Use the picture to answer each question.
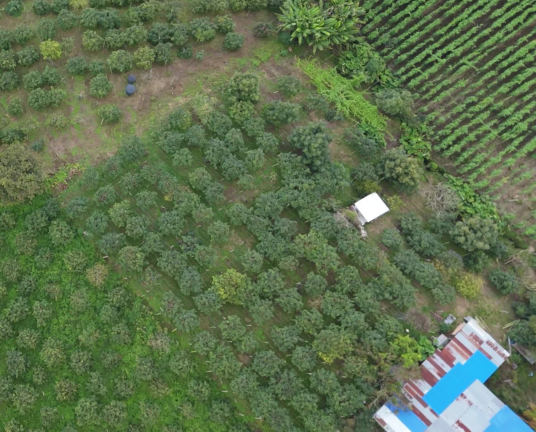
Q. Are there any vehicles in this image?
No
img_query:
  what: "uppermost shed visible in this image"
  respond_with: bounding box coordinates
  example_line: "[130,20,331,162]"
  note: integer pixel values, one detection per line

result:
[349,192,389,226]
